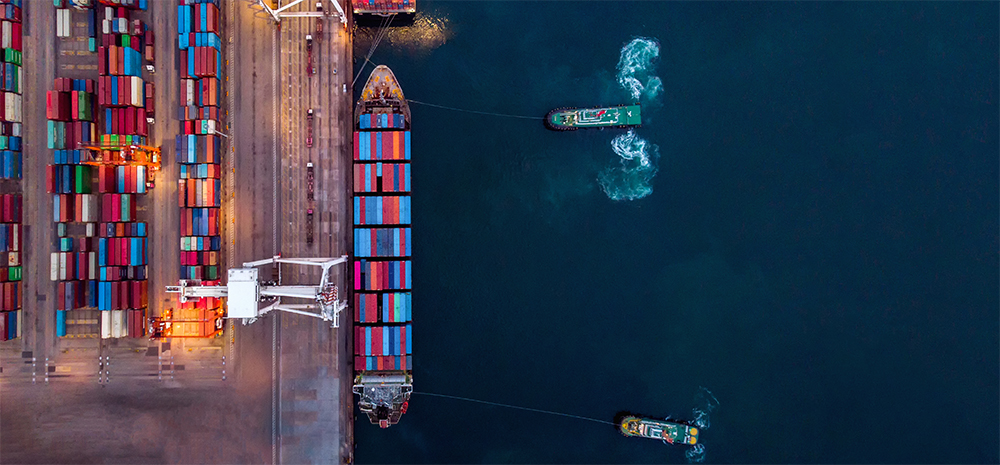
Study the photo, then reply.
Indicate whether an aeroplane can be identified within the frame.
No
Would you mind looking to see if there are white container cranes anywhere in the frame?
Yes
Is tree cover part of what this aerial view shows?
No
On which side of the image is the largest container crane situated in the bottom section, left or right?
left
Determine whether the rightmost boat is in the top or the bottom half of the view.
bottom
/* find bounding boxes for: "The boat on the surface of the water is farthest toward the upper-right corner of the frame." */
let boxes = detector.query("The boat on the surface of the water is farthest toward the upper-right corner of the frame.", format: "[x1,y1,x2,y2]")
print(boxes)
[544,103,641,131]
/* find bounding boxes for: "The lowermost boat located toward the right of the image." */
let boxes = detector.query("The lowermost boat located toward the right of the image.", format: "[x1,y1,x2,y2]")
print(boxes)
[617,415,698,445]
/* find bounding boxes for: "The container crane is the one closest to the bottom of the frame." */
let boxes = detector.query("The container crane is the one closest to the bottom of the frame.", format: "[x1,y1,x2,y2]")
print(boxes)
[148,308,228,340]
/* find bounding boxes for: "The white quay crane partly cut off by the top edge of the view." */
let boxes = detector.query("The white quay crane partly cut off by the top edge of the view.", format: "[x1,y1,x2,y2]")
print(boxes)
[261,0,350,33]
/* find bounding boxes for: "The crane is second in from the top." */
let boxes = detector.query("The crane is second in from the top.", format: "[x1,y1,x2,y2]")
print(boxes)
[76,143,160,173]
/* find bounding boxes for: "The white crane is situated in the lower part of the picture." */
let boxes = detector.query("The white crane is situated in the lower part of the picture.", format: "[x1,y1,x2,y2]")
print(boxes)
[162,246,350,328]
